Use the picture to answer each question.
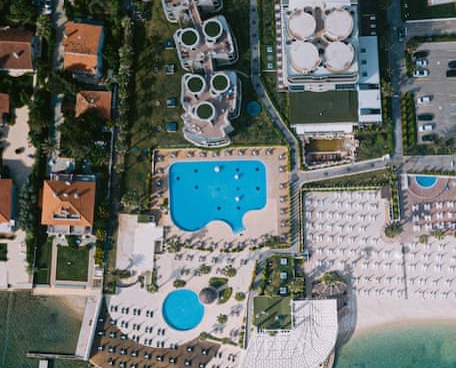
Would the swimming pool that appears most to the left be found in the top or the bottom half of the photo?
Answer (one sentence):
The bottom half of the photo is where the swimming pool that appears most to the left is.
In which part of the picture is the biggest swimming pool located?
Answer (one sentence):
The biggest swimming pool sits in the center section of the image.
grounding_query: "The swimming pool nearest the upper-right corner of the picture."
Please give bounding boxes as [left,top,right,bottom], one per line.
[414,176,439,189]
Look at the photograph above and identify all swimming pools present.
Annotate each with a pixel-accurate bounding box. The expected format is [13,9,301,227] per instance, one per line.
[160,287,206,333]
[166,157,269,234]
[414,176,439,189]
